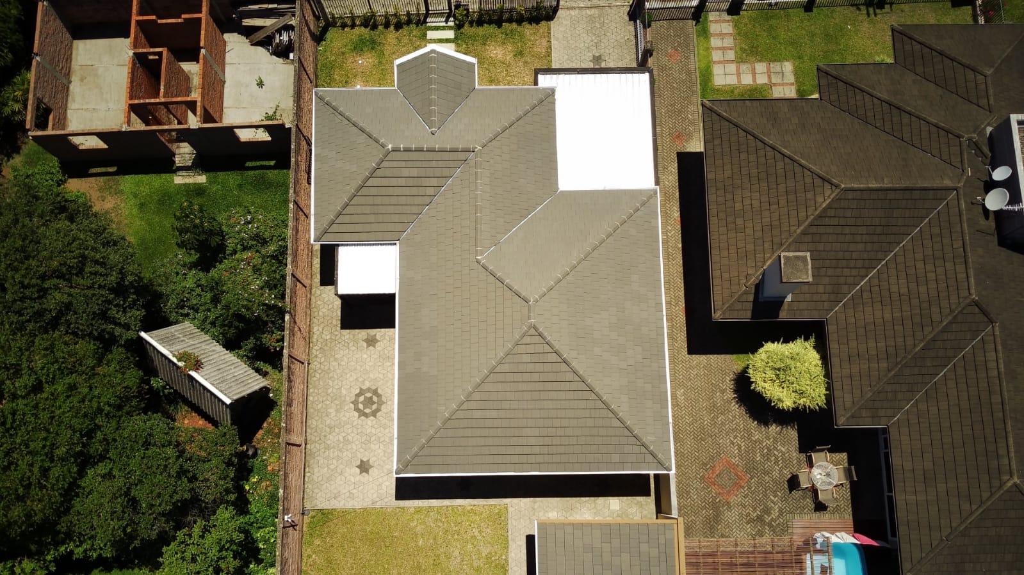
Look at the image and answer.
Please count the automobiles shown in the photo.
0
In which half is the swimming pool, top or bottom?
bottom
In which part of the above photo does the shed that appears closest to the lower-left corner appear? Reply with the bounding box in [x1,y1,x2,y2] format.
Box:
[138,322,273,427]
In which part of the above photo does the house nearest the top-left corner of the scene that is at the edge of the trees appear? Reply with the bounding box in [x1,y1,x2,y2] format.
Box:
[22,0,296,176]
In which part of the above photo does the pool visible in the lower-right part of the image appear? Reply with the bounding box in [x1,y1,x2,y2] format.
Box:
[826,544,869,575]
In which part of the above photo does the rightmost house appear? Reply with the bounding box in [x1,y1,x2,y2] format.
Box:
[697,21,1024,575]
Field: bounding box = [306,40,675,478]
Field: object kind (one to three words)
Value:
house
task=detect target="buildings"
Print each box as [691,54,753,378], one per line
[697,21,1024,575]
[534,513,690,575]
[306,40,675,478]
[22,0,296,176]
[138,322,273,427]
